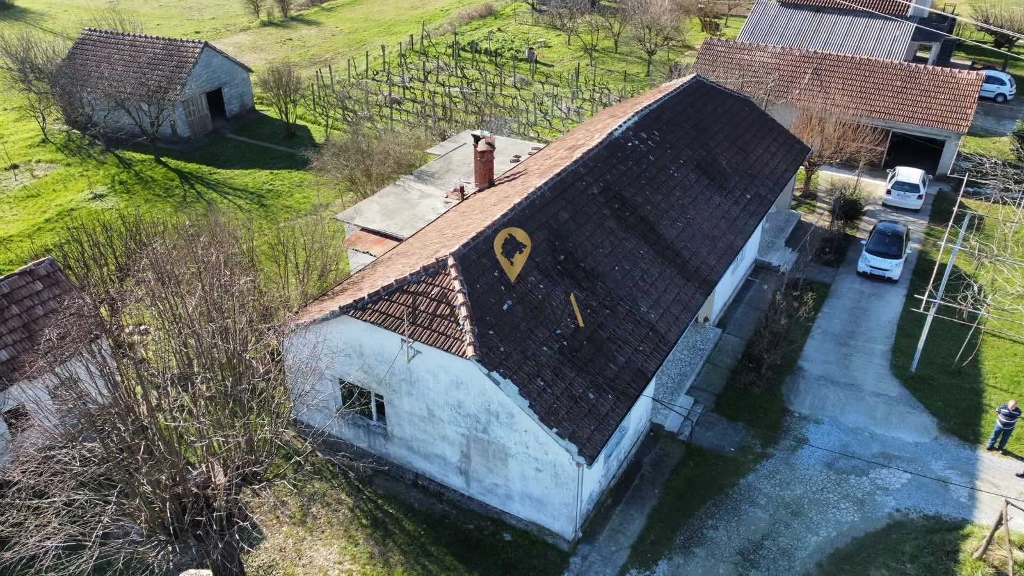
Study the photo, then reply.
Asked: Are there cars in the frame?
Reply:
Yes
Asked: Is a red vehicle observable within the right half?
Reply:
No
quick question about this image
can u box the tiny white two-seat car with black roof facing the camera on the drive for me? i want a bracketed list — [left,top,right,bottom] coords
[854,214,918,281]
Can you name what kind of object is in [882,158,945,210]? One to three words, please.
car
